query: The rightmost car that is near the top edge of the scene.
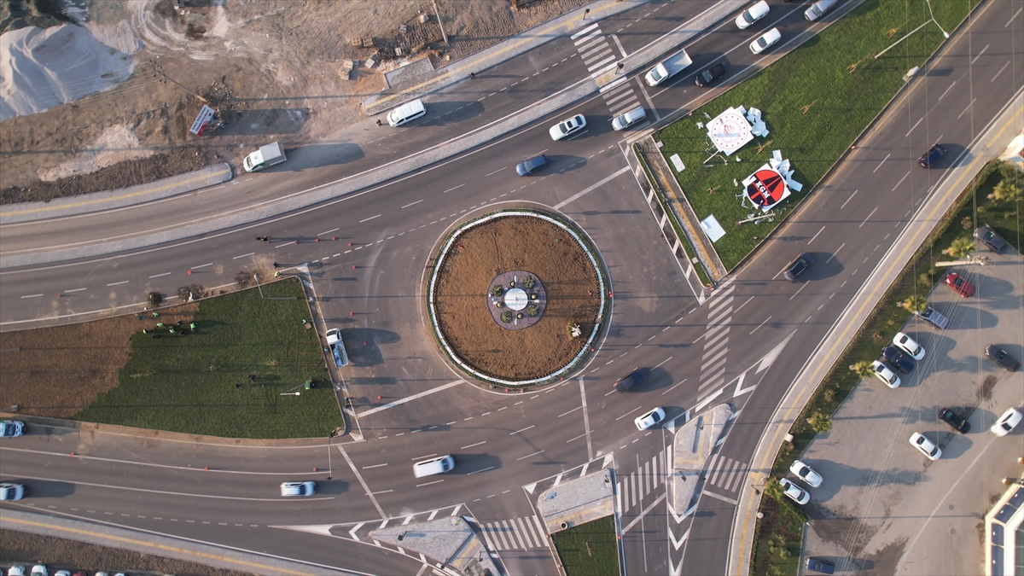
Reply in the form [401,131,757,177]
[802,0,841,24]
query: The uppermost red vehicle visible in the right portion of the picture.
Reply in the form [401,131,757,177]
[941,272,978,299]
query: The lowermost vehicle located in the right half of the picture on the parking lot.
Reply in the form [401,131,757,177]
[804,555,837,575]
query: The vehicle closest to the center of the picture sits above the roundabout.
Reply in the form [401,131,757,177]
[515,153,549,176]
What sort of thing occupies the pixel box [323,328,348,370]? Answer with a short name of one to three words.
truck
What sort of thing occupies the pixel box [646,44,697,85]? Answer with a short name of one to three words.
truck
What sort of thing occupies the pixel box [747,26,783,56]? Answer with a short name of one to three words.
van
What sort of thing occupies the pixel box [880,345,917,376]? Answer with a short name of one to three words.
car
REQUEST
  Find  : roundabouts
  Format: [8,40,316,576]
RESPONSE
[426,207,607,389]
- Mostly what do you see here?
paved ground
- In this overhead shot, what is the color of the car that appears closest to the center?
blue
